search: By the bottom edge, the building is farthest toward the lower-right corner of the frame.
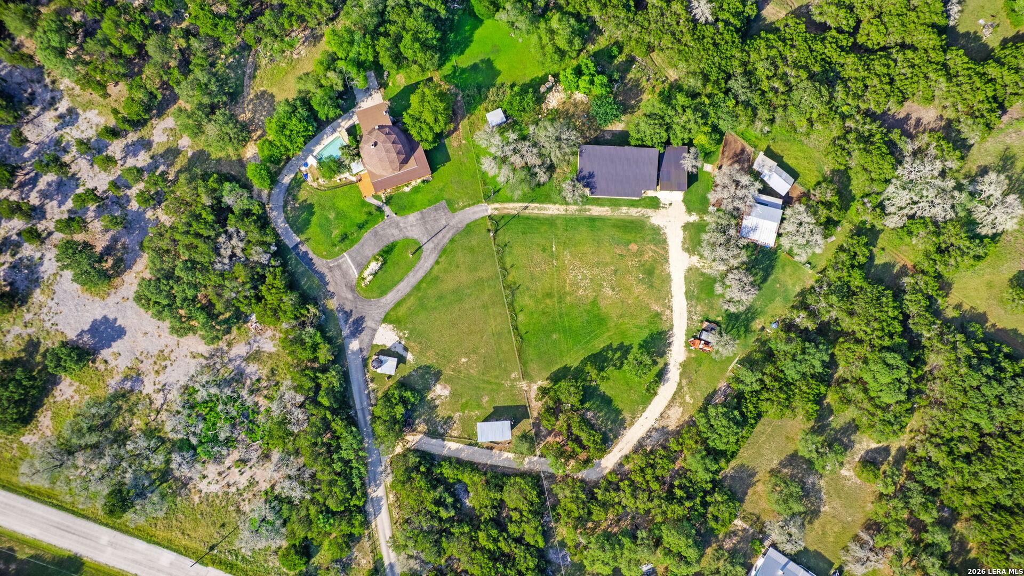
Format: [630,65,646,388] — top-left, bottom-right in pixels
[749,536,815,576]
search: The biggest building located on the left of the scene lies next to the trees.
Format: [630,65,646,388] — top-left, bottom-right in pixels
[356,102,433,196]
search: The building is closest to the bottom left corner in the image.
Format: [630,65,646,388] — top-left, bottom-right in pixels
[376,355,399,375]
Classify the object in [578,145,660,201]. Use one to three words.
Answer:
barn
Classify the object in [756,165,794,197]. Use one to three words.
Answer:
shed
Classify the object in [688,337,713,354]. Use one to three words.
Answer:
work vehicle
